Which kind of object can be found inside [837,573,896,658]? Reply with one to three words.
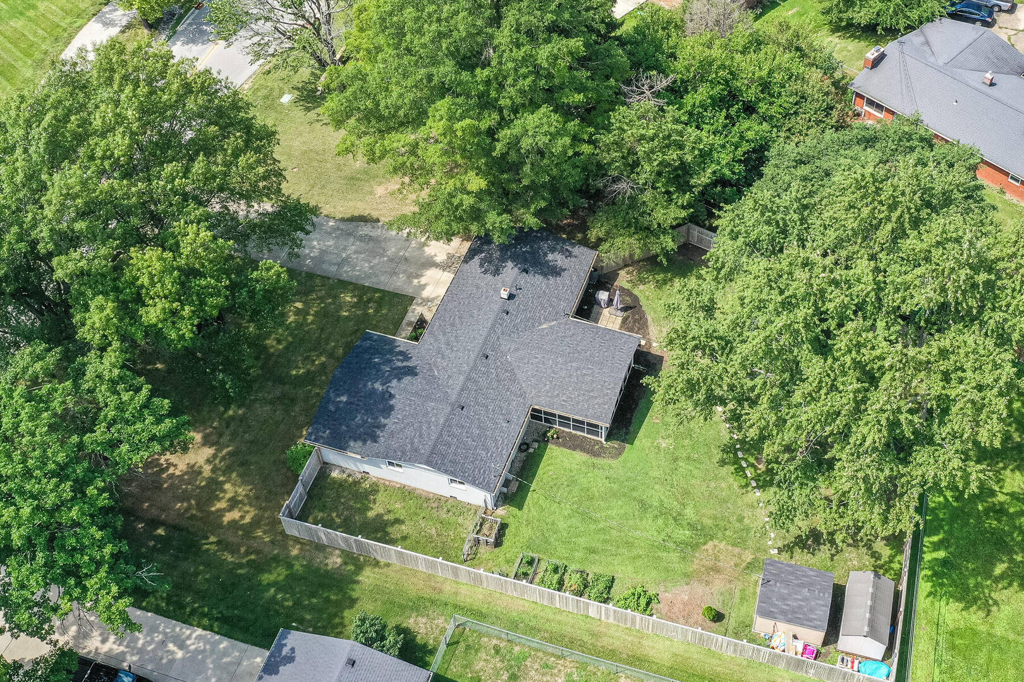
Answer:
shed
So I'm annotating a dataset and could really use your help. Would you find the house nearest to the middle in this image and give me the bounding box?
[304,224,659,516]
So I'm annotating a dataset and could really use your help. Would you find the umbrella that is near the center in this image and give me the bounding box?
[608,289,624,318]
